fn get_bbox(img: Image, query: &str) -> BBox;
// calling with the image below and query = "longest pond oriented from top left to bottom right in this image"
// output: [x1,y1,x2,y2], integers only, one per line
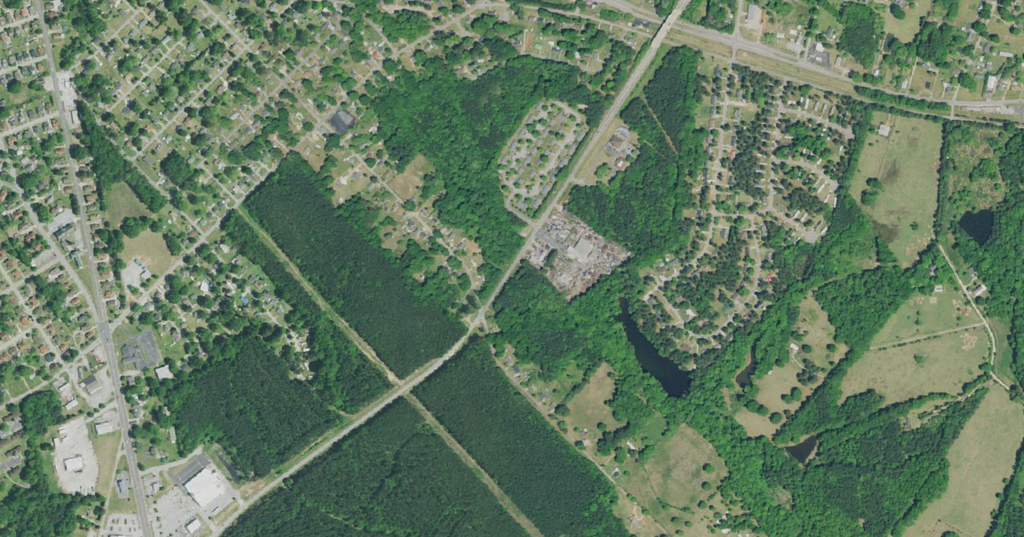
[614,296,691,397]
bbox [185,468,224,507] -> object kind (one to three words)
building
